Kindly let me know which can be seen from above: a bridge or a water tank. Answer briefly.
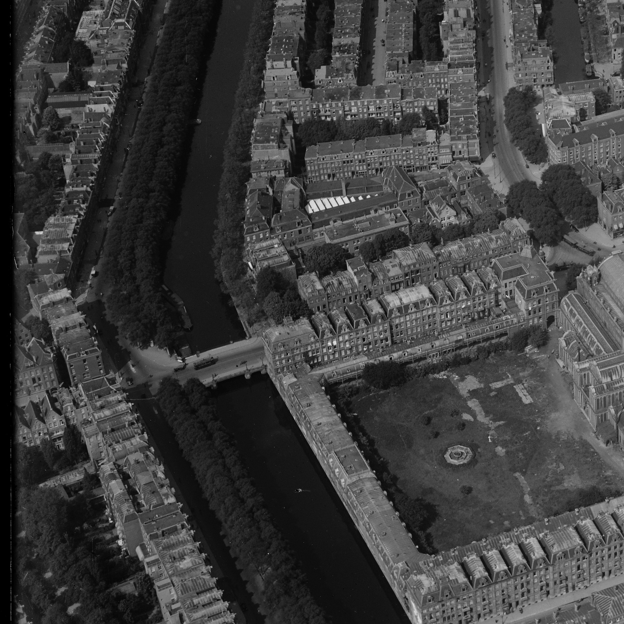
bridge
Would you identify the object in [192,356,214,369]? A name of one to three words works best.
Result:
train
